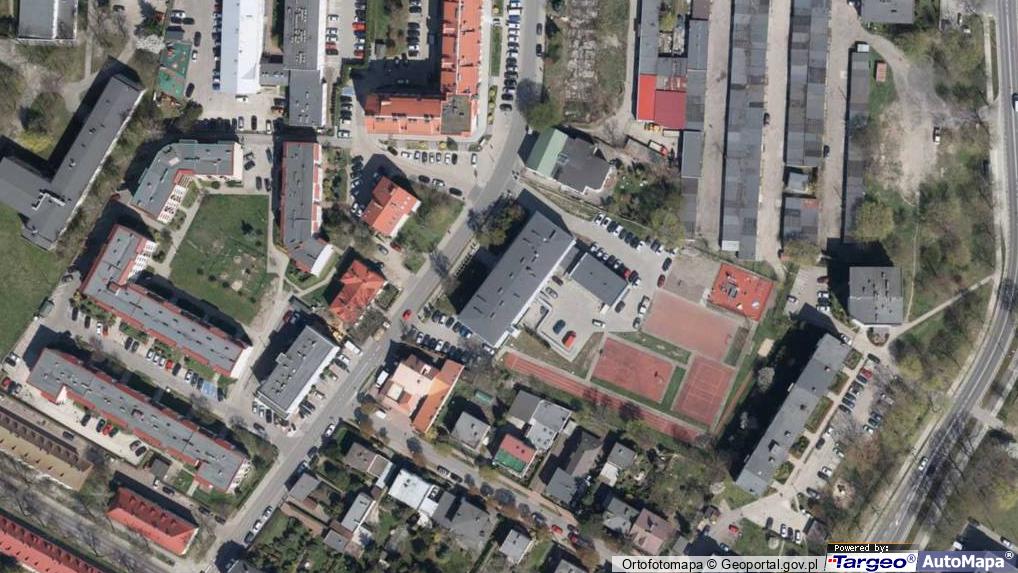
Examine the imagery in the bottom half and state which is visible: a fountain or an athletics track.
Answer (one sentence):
It is an athletics track that can be seen in the bottom half.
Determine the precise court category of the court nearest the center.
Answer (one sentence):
The court nearest the center is a basketball court.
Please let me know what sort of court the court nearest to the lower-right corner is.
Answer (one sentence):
The court nearest to the lower-right corner can be classified as a tennis court.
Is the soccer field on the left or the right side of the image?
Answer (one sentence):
The soccer field is on the right side of the image.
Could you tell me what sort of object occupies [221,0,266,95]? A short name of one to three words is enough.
building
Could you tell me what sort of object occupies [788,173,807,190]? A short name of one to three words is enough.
shed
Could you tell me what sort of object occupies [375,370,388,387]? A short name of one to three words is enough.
vehicle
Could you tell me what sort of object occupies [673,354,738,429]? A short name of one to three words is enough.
tennis court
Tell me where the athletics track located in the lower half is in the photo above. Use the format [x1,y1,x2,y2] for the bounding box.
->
[503,352,706,443]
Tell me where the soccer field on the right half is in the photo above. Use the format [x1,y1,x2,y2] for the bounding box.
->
[641,289,741,363]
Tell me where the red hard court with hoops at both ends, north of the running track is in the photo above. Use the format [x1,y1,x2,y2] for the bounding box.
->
[591,335,676,403]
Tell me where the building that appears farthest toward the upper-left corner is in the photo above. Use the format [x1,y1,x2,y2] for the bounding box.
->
[18,0,79,40]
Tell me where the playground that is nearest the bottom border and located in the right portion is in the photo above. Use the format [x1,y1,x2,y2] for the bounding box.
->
[709,263,774,320]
